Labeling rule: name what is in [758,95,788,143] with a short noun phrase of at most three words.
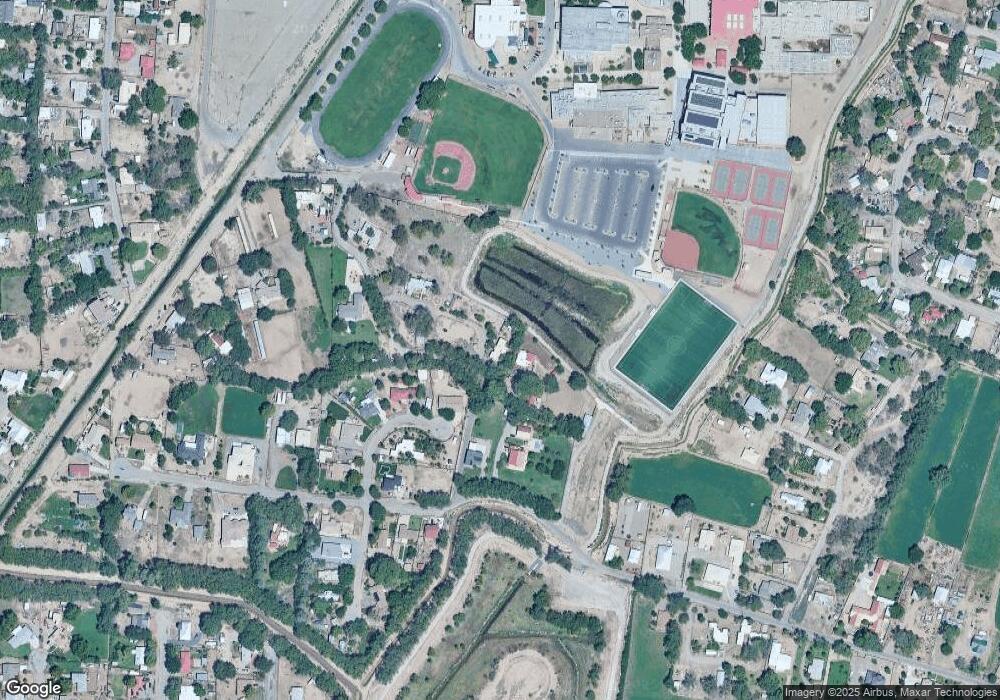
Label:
building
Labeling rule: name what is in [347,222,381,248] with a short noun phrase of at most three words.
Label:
house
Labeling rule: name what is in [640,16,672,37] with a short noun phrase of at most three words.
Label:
building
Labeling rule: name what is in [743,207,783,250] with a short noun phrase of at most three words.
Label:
tennis court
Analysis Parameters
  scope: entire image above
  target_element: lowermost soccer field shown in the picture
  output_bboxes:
[614,280,738,412]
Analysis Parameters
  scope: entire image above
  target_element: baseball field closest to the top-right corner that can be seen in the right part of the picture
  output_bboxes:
[659,188,743,281]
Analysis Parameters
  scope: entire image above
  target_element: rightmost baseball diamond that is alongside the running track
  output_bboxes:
[414,79,545,206]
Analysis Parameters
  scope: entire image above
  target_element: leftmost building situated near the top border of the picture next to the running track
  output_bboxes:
[475,0,526,48]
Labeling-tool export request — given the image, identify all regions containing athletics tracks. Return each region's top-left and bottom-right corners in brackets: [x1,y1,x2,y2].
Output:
[311,2,451,166]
